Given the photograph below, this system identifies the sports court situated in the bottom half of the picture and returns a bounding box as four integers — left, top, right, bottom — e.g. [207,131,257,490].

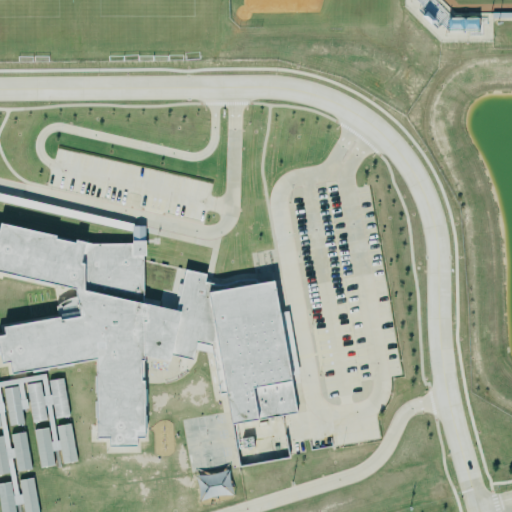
[184,414,232,472]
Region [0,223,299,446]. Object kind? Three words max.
building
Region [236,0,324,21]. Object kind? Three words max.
baseball field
